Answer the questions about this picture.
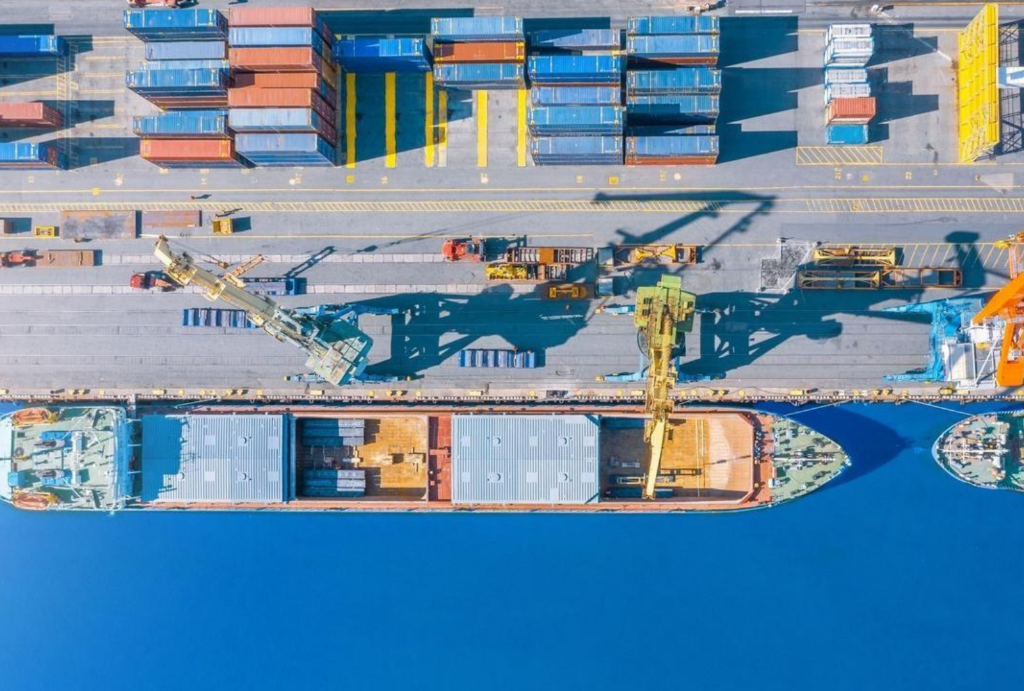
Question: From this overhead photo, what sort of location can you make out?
port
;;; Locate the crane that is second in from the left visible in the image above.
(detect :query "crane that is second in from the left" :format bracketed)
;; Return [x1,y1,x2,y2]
[600,273,725,502]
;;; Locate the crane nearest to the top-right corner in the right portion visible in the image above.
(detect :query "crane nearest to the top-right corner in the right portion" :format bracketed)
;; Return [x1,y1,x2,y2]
[884,230,1024,387]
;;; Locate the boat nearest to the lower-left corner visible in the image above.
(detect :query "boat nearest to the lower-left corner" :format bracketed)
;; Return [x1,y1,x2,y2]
[13,494,54,510]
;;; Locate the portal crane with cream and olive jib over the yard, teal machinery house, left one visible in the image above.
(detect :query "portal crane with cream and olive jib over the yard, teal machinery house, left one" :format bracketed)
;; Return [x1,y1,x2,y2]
[143,227,414,390]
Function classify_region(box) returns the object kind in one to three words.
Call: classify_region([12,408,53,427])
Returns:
boat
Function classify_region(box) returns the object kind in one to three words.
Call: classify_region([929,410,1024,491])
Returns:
ship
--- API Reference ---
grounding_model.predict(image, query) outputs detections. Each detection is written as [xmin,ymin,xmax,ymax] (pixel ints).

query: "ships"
[0,406,851,512]
[929,410,1024,491]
